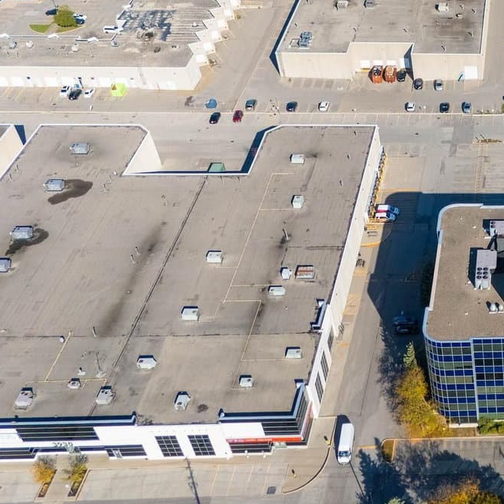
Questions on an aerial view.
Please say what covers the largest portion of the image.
buildings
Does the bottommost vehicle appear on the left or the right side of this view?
right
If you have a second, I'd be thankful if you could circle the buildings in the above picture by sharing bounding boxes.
[423,204,504,425]
[0,0,241,88]
[0,125,390,459]
[275,0,490,79]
